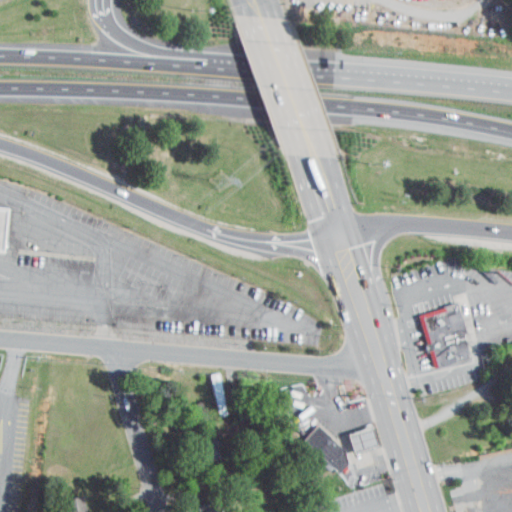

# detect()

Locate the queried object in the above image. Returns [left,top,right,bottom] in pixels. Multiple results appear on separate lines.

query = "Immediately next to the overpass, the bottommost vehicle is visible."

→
[307,152,326,191]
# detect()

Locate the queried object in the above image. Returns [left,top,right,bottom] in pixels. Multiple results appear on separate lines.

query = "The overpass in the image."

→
[234,16,338,158]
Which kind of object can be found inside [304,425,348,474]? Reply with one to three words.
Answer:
building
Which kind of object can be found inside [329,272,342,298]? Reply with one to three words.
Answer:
vehicle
